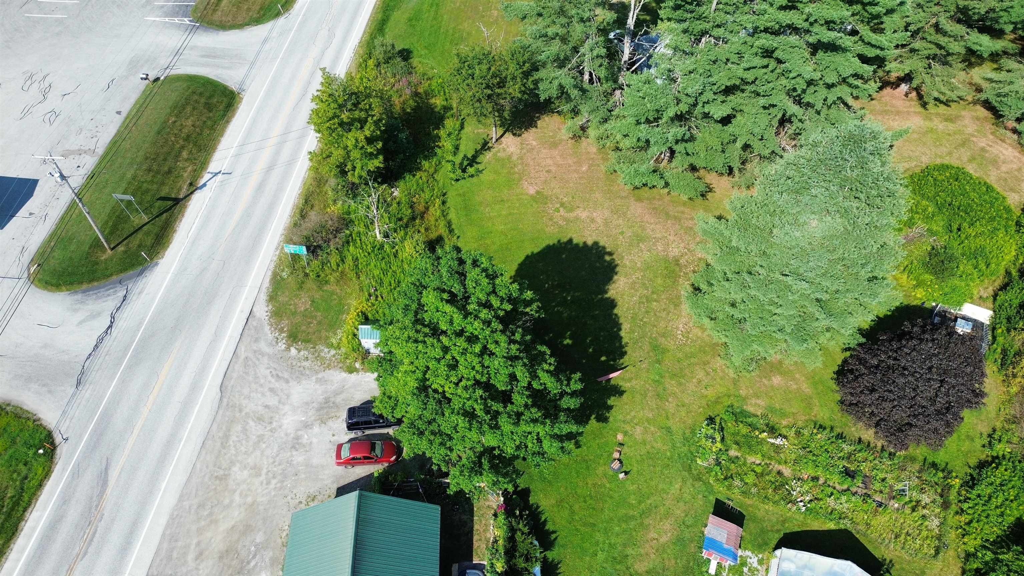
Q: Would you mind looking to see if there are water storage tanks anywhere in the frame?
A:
No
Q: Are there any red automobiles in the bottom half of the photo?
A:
Yes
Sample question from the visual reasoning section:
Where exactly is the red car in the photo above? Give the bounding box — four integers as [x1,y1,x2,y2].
[334,438,399,470]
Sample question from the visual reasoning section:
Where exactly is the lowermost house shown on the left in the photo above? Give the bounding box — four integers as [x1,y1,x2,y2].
[282,485,441,576]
